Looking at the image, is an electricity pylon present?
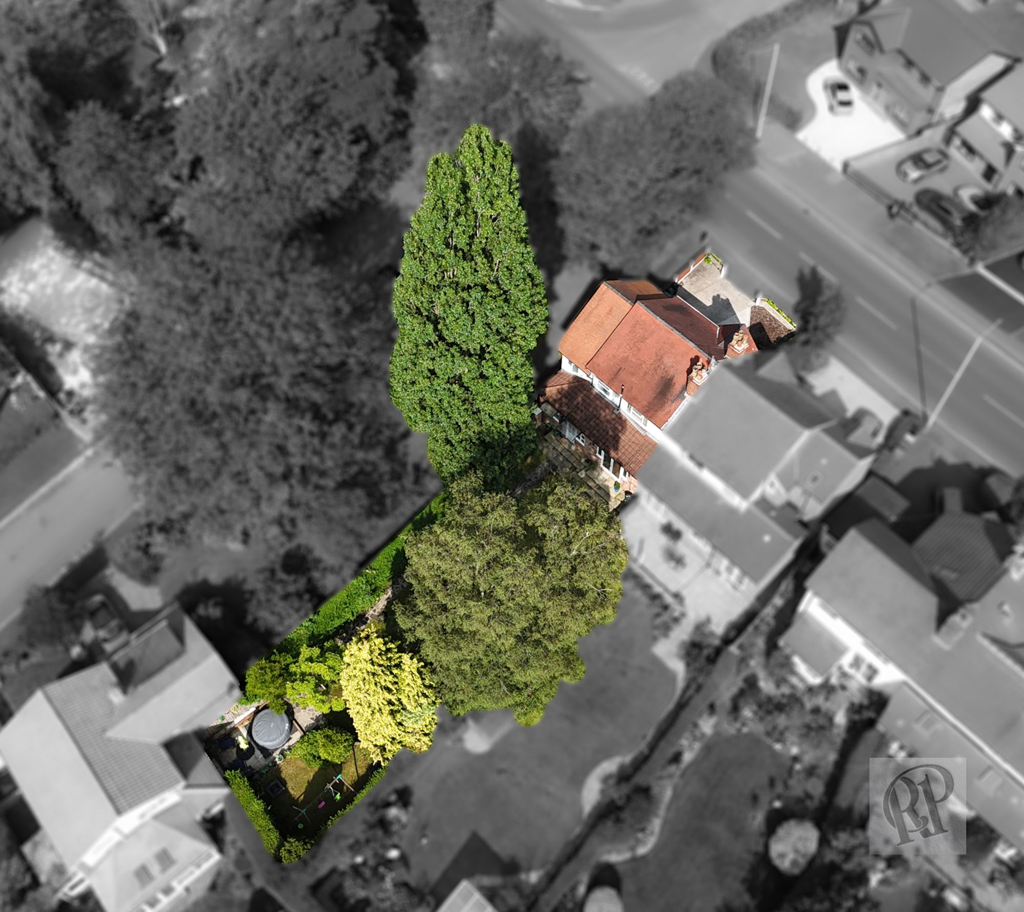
No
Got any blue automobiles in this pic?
No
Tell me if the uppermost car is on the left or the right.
right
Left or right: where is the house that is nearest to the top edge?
right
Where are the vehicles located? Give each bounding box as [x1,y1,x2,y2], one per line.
[908,186,971,234]
[822,78,856,117]
[896,143,953,184]
[72,582,140,652]
[847,400,891,448]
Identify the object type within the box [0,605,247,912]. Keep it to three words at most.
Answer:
house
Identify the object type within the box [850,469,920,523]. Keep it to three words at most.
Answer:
shed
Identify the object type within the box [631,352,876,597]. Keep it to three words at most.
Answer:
house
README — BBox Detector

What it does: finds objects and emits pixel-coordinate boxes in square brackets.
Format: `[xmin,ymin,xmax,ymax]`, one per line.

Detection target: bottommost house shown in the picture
[428,877,491,912]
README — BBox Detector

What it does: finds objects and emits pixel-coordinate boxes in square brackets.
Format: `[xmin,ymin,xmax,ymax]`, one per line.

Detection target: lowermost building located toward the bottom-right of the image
[770,511,1024,885]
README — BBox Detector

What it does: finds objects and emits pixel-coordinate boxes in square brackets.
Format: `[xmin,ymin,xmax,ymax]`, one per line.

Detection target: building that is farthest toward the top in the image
[835,0,1022,134]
